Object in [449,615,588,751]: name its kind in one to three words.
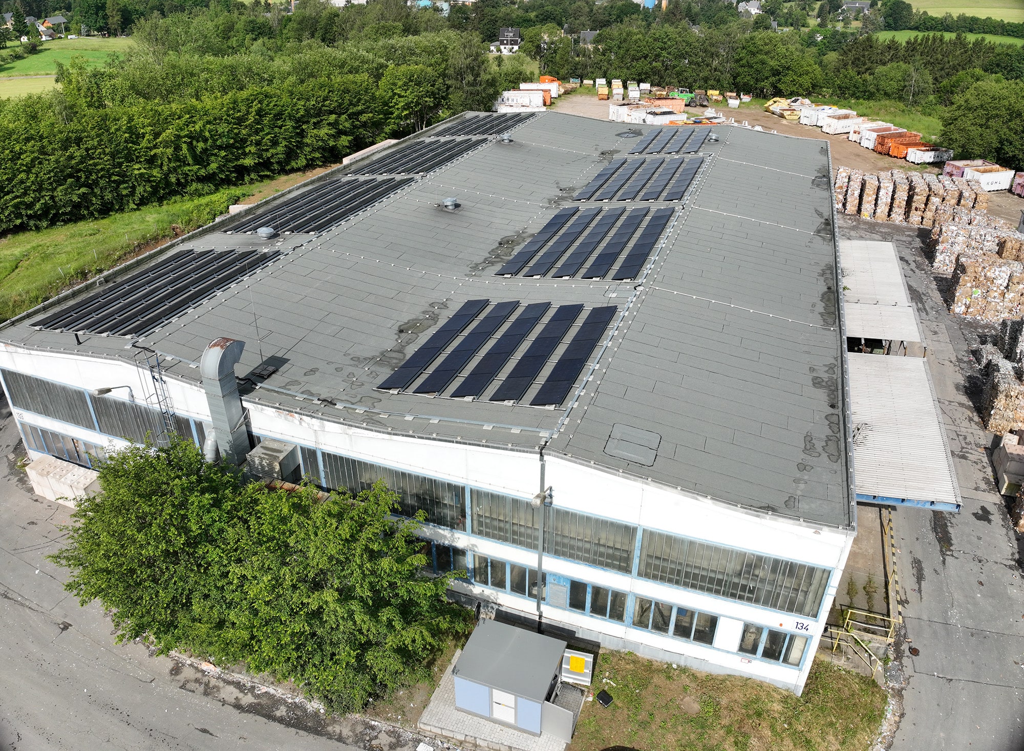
shed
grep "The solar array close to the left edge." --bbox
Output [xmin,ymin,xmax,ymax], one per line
[31,244,281,341]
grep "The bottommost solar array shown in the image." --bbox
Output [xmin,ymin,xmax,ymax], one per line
[374,295,617,413]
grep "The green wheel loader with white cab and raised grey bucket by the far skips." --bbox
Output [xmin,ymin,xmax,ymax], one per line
[677,87,709,108]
